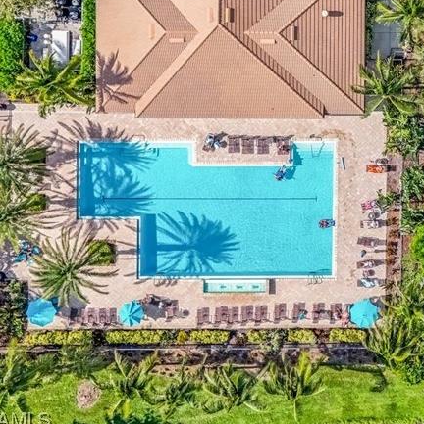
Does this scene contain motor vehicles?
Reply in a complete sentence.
No, no motor vehicle can be seen from above.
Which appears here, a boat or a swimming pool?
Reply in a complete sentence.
It is a swimming pool that can be seen here.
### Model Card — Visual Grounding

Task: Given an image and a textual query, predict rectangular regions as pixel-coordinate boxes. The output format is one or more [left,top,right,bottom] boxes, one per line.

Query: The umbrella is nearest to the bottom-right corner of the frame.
[351,298,378,325]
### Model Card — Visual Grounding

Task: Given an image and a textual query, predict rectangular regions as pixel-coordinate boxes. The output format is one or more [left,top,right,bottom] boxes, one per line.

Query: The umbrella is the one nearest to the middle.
[118,297,145,324]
